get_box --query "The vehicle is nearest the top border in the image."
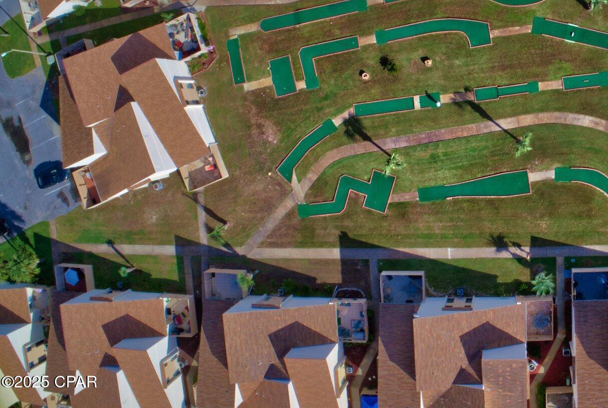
[30,164,70,187]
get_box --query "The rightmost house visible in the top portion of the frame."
[58,13,229,209]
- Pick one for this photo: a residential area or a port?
residential area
